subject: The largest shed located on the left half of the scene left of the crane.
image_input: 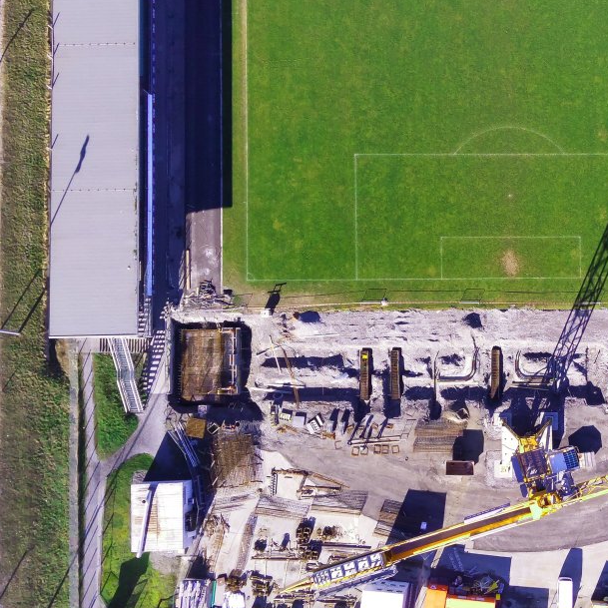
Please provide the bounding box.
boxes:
[131,478,203,559]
